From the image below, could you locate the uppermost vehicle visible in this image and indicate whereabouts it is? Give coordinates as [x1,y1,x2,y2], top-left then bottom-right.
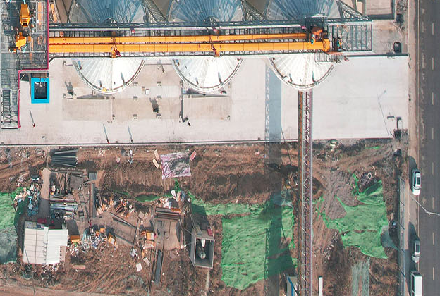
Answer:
[412,168,425,198]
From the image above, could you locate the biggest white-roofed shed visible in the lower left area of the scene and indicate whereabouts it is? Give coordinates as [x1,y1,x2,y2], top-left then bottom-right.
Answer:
[22,221,67,263]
